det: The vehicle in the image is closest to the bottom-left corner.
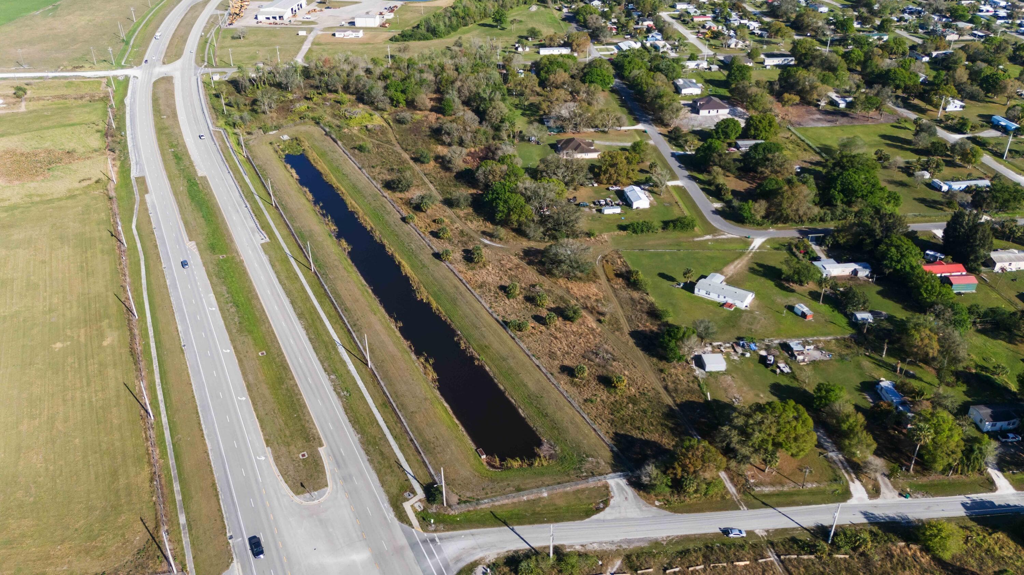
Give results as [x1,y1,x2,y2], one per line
[250,533,262,554]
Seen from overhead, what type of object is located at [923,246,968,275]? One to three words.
house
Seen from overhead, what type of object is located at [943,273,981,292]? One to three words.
shed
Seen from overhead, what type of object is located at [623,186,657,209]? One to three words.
house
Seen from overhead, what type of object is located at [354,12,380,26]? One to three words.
building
